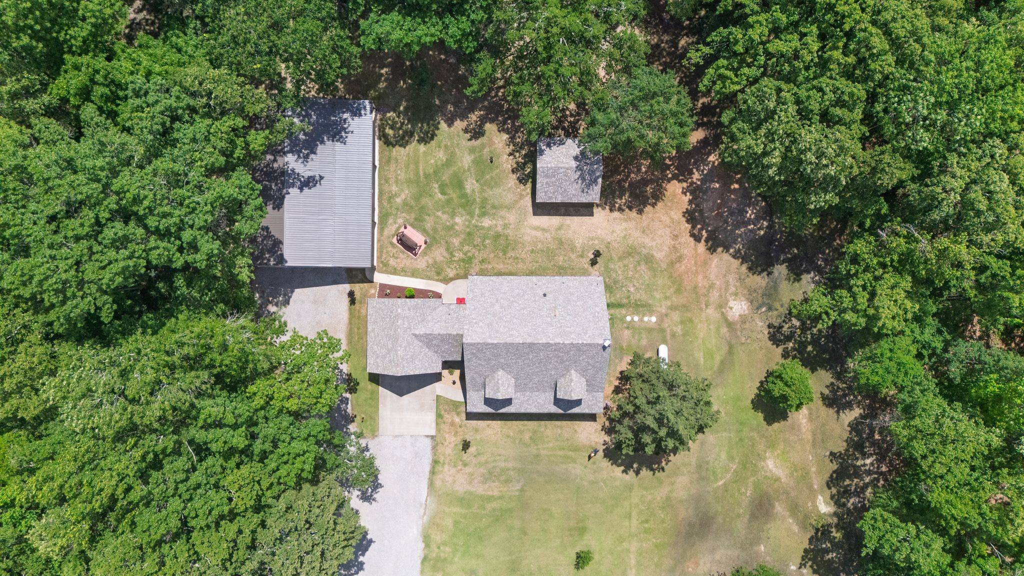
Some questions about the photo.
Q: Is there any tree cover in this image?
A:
Yes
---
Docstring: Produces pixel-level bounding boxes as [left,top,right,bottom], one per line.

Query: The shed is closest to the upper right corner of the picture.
[536,138,602,203]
